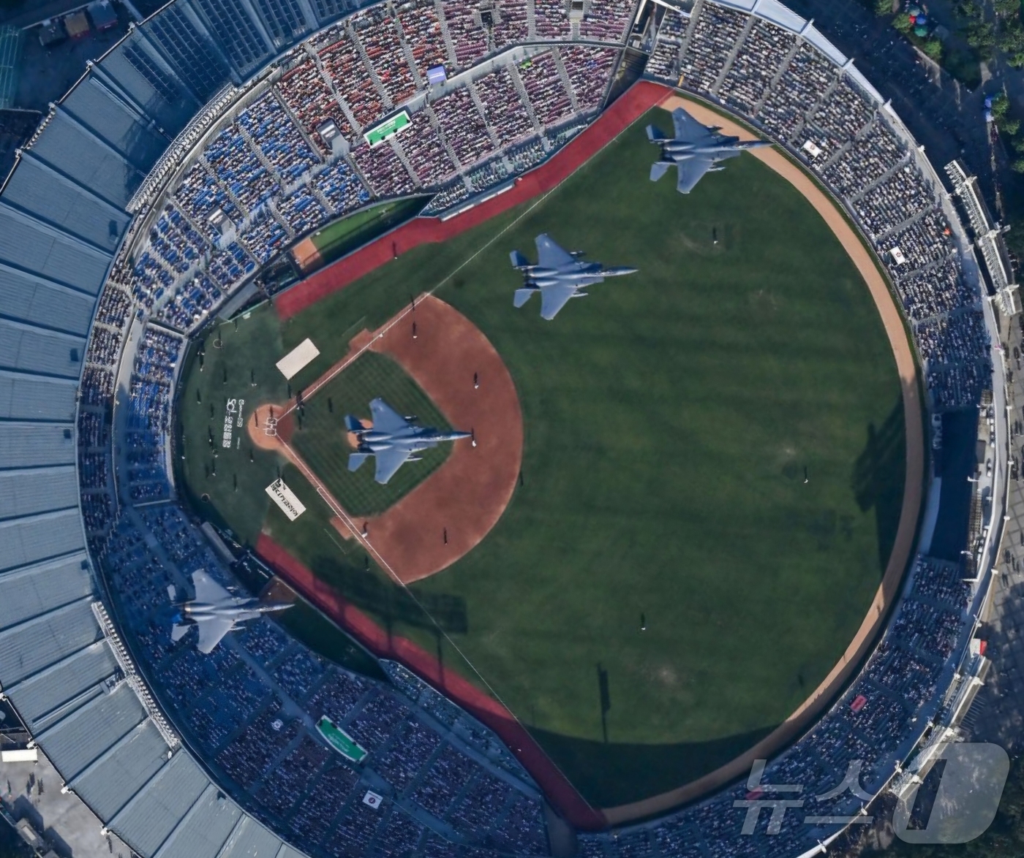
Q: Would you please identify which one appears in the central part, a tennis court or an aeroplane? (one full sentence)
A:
Looking in the central part, you will find an aeroplane.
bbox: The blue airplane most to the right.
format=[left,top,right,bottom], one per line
[644,108,771,194]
